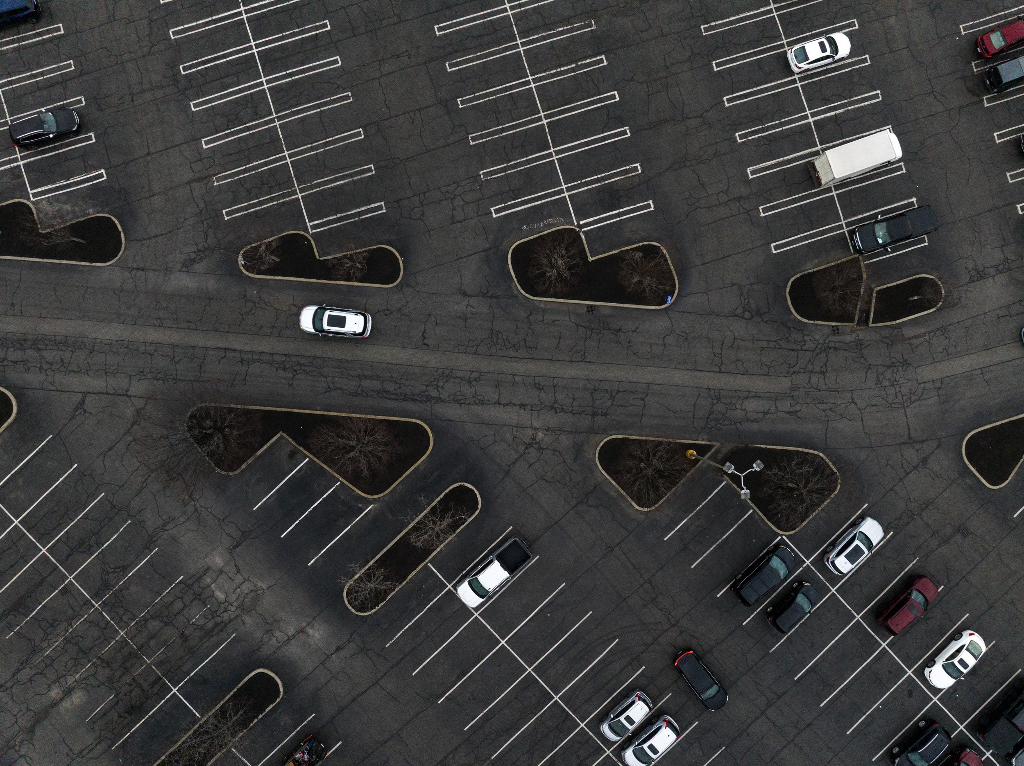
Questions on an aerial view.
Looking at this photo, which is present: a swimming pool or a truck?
truck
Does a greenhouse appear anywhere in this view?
No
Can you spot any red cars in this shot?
Yes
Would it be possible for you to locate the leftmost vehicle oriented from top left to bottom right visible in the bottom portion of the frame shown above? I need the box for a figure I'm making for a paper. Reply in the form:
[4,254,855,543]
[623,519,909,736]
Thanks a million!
[674,649,726,711]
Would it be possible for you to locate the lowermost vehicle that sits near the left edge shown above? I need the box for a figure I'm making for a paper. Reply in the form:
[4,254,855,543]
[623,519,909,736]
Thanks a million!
[8,107,84,150]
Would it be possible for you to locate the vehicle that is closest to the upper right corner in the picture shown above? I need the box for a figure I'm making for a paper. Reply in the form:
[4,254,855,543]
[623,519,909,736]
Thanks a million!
[973,17,1024,59]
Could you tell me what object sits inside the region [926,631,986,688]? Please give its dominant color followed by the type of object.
white car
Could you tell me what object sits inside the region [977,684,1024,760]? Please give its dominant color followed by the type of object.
black truck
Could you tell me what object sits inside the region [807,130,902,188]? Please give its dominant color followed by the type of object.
white truck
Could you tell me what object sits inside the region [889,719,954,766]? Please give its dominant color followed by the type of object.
black car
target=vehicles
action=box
[807,130,902,188]
[0,0,45,33]
[926,631,986,688]
[822,518,884,576]
[977,684,1024,760]
[459,535,534,608]
[730,544,796,607]
[852,204,944,253]
[973,17,1024,59]
[936,745,979,766]
[875,575,938,637]
[889,719,954,766]
[674,649,726,711]
[8,107,84,150]
[766,581,820,634]
[600,688,654,743]
[982,55,1024,94]
[786,33,850,75]
[621,714,681,766]
[300,303,372,338]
